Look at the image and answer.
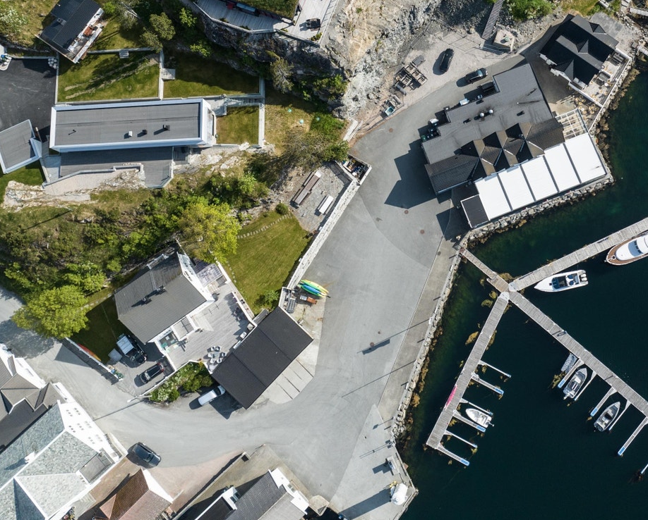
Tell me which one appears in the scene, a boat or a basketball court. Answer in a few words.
boat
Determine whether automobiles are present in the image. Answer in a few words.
Yes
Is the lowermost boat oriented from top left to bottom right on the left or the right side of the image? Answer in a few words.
right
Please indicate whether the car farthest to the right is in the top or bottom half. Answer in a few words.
top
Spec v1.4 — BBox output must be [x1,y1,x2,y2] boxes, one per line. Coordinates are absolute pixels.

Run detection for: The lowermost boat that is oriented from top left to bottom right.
[466,409,493,430]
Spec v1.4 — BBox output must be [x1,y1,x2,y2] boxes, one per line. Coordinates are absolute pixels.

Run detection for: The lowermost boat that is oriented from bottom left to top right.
[594,402,619,433]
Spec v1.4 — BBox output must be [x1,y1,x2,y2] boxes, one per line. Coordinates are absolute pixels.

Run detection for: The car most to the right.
[461,65,493,85]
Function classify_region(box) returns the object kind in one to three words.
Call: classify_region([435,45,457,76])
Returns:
car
